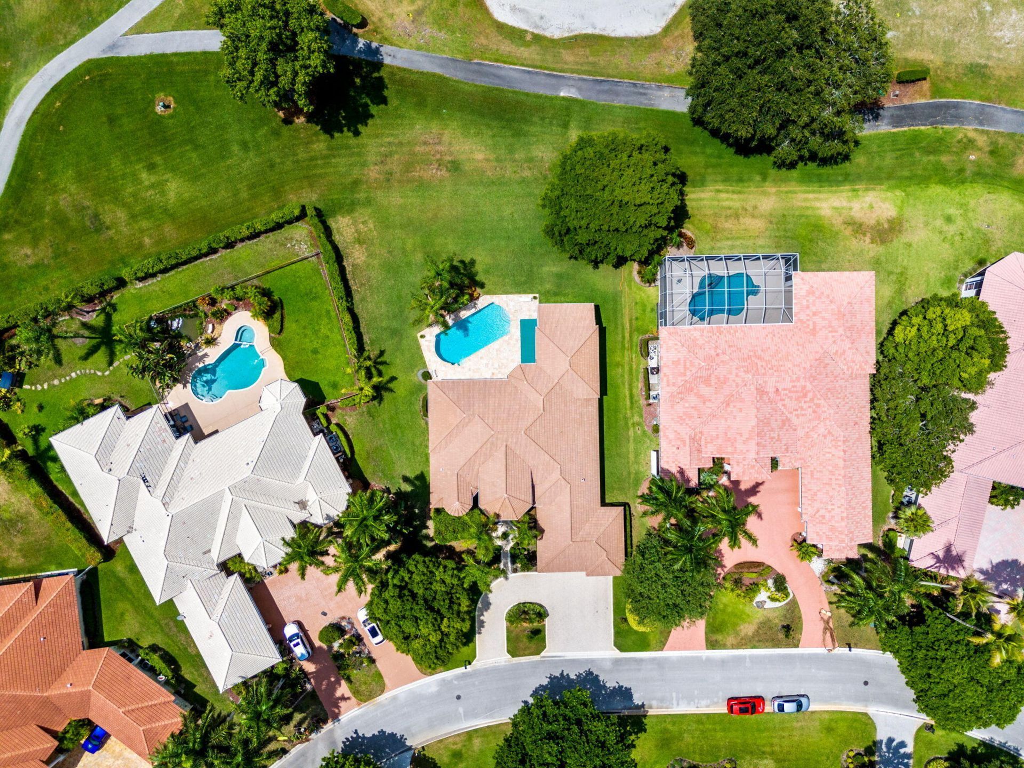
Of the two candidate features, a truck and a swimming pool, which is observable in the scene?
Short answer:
swimming pool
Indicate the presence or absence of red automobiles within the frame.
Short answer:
Yes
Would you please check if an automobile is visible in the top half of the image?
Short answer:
No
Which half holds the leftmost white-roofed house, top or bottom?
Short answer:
bottom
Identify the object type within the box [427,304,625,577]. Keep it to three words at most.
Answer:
house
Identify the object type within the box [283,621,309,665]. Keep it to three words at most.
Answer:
car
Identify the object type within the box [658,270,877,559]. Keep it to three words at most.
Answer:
house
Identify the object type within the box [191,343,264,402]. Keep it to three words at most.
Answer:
swimming pool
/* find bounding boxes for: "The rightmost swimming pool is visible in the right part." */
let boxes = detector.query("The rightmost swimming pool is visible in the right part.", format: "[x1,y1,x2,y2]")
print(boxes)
[689,273,761,322]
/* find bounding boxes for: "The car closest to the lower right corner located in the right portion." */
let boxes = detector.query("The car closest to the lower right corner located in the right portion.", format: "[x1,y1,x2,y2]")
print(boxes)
[770,694,810,714]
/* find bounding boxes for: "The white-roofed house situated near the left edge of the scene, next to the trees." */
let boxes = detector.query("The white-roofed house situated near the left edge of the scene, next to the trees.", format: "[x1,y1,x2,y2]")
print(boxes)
[47,375,348,694]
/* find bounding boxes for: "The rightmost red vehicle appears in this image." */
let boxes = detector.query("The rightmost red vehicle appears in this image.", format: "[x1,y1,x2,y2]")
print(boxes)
[726,695,765,715]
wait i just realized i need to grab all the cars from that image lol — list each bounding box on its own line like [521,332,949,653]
[770,694,810,714]
[75,724,106,761]
[354,606,382,648]
[283,621,309,665]
[726,695,765,715]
